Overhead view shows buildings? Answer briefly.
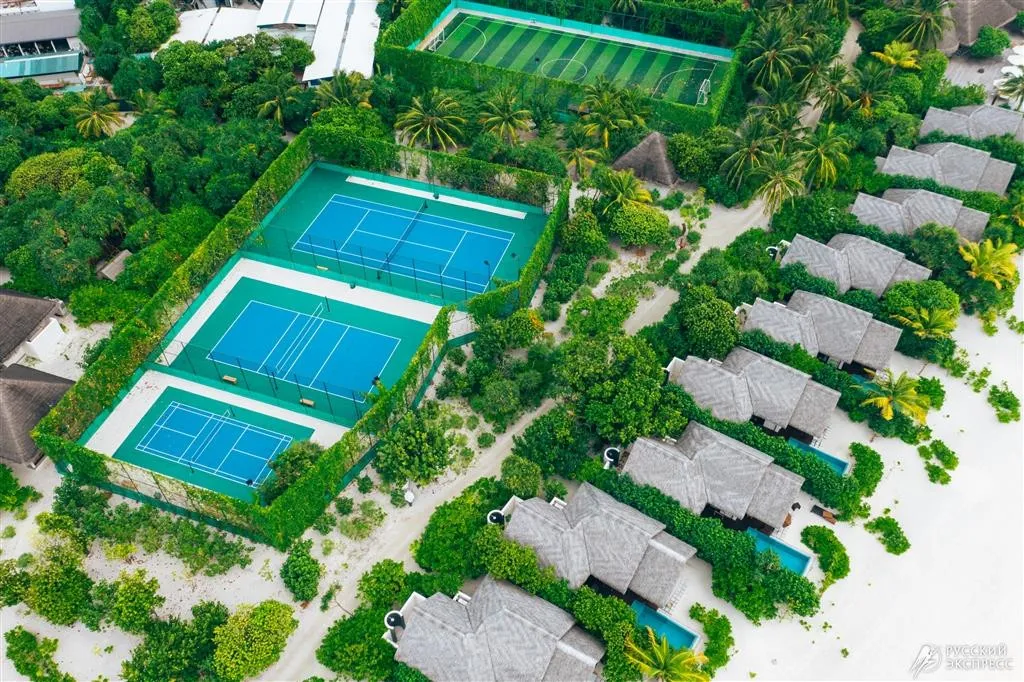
Yes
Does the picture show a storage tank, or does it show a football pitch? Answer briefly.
football pitch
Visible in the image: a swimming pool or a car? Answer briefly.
swimming pool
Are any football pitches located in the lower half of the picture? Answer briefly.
No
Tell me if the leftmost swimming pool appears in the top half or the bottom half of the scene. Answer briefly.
bottom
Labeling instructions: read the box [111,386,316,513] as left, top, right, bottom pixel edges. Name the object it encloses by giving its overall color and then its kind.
blue sports court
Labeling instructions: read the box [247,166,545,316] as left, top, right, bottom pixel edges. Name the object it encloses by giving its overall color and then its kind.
blue tennis court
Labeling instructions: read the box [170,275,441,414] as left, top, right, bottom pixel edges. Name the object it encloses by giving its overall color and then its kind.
blue sports court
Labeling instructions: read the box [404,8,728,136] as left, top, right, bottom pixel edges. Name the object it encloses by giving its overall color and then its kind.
green soccer field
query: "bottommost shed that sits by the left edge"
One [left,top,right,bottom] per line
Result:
[0,365,77,470]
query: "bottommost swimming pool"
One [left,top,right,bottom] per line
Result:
[624,594,701,658]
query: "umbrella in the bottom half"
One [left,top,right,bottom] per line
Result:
[402,492,416,510]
